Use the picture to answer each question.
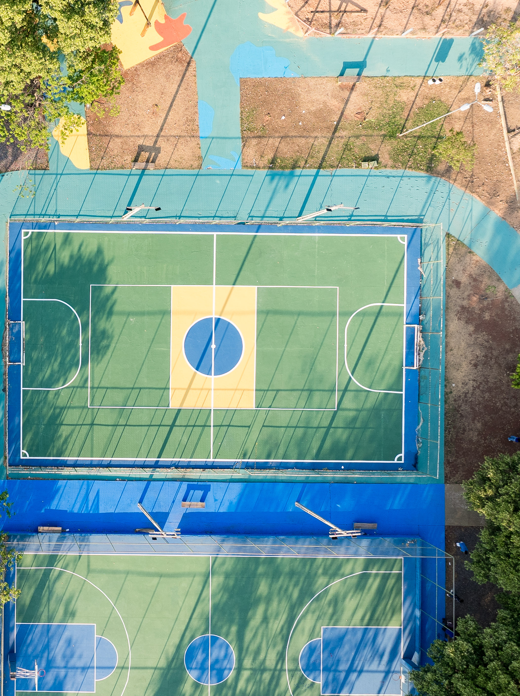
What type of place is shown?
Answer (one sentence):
This image shows a sports ground.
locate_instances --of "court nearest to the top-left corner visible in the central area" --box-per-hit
[9,223,421,471]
